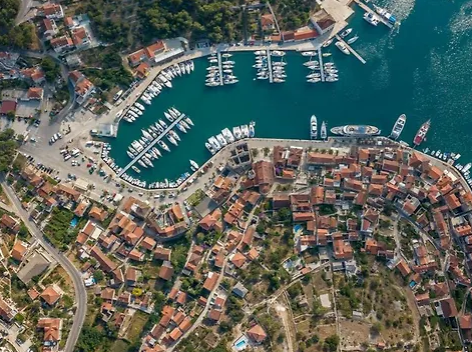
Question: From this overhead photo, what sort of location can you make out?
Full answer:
This image shows a residential area.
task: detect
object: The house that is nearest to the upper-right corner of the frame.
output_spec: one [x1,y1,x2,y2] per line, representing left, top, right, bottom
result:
[313,10,334,33]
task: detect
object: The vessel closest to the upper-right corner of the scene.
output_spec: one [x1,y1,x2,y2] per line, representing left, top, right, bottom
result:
[377,5,395,22]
